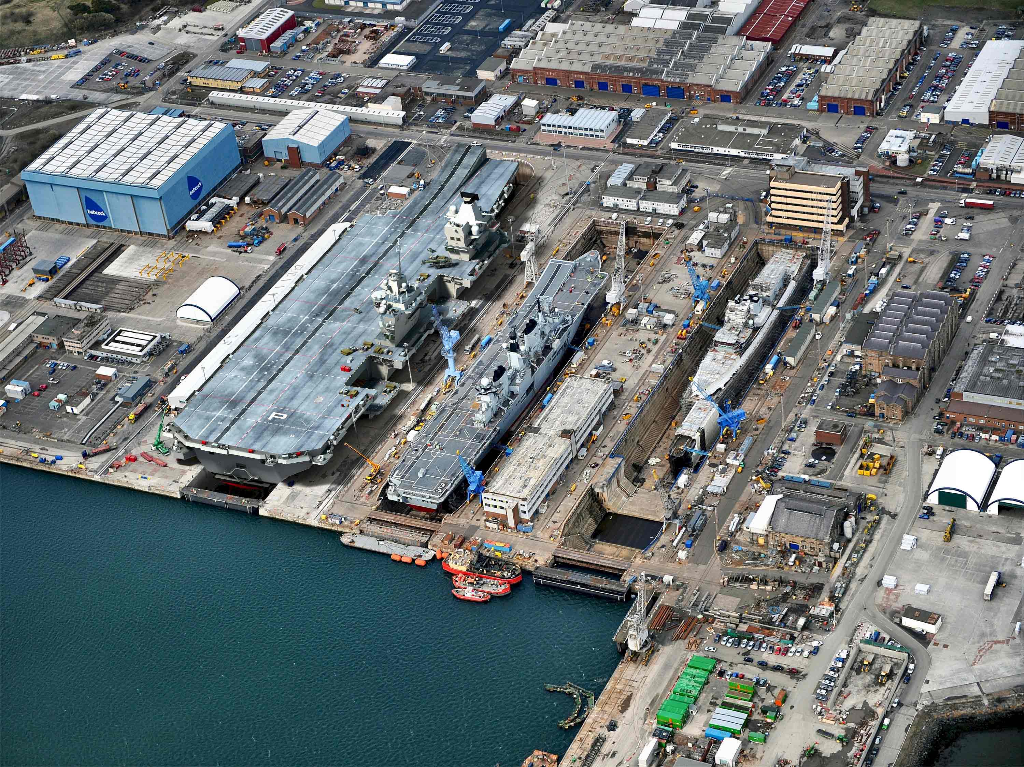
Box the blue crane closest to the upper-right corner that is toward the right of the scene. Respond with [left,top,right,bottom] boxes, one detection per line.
[684,252,710,309]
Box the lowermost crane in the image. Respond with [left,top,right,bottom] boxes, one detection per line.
[620,570,649,670]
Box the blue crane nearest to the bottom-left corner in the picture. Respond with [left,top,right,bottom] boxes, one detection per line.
[456,450,484,508]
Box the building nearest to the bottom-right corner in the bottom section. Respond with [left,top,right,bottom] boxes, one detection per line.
[902,604,941,629]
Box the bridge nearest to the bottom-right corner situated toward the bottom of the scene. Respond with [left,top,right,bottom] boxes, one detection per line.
[548,542,646,586]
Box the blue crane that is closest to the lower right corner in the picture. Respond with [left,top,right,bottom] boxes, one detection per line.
[689,377,740,443]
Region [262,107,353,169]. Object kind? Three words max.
hangar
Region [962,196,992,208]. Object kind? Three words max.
vehicle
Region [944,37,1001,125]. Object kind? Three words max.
shed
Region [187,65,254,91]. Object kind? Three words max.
building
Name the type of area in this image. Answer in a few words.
port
